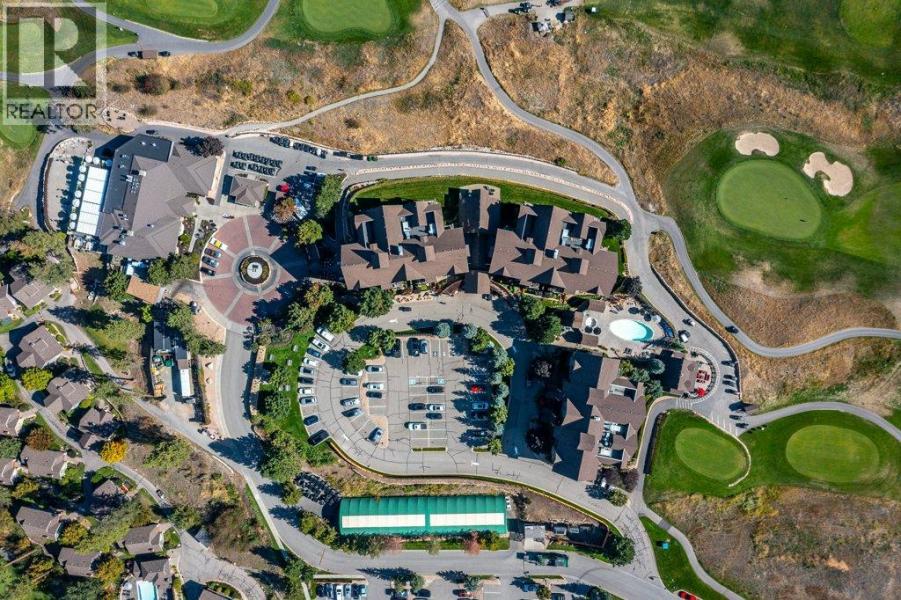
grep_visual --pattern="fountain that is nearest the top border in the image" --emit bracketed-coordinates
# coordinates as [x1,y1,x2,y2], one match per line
[238,255,269,285]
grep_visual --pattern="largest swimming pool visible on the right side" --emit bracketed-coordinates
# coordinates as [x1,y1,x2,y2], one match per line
[609,318,655,341]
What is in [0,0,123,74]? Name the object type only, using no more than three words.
golf course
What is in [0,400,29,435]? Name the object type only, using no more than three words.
house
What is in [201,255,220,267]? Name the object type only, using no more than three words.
vehicle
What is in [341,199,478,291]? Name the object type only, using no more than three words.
building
